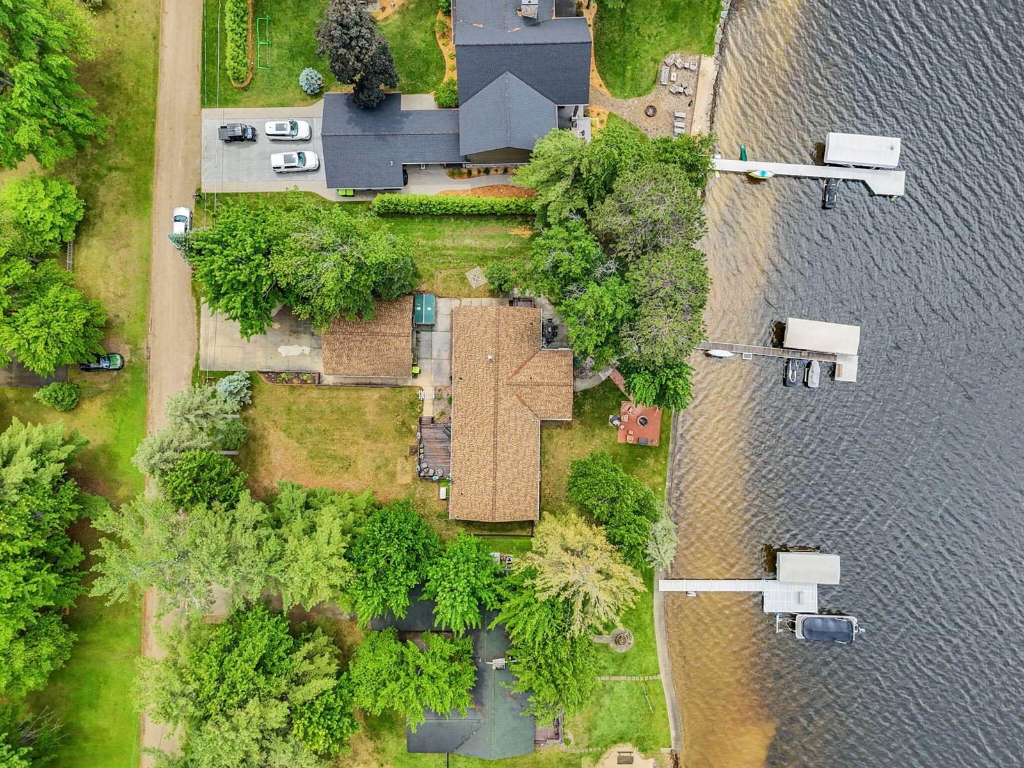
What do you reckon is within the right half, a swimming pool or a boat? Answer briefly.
boat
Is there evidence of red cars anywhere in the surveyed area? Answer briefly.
No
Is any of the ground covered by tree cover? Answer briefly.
Yes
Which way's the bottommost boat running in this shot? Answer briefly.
from side to side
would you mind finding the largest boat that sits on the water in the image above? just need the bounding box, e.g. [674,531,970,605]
[794,614,866,642]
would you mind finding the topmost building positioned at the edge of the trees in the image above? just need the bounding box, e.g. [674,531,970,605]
[321,0,593,191]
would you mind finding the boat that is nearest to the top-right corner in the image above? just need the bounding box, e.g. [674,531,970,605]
[821,180,835,209]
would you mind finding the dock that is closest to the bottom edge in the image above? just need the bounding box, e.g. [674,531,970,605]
[666,577,820,614]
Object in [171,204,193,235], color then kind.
white car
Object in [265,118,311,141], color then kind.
white car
